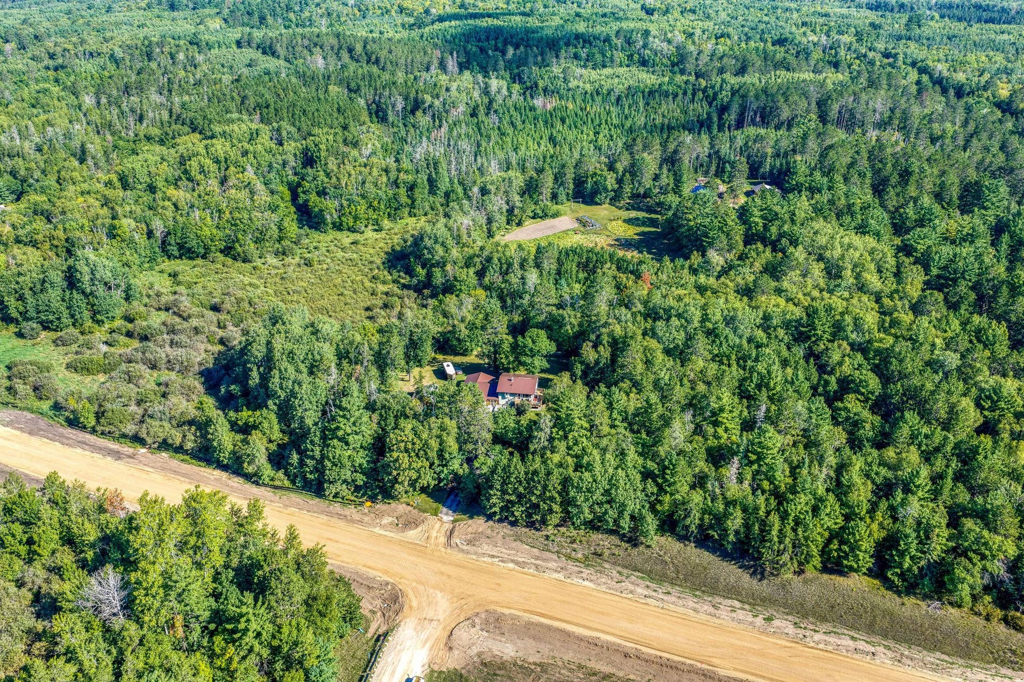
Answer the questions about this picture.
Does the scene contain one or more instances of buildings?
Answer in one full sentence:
Yes, the photo shows a building.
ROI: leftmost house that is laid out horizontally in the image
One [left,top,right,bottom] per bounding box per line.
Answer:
[466,371,547,410]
